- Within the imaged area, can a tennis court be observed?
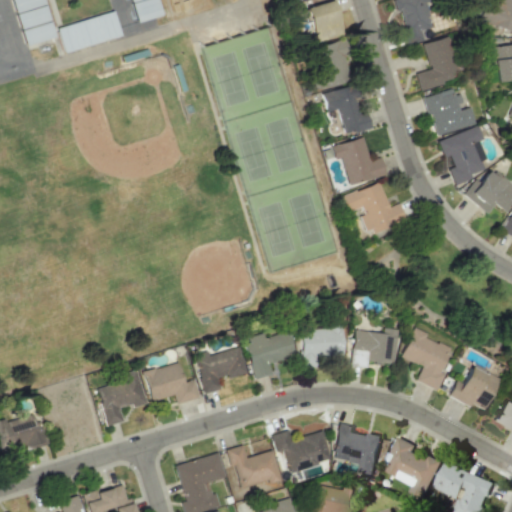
Yes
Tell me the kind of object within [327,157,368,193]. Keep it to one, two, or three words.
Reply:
swimming pool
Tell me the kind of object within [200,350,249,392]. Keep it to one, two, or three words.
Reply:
house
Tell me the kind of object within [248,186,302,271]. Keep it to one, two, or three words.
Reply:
tennis court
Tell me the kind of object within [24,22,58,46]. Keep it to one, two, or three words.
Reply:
building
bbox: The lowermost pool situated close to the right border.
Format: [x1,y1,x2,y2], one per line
[462,347,502,376]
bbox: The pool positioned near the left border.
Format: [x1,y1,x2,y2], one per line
[20,398,35,413]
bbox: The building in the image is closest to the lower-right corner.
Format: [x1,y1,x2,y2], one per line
[434,466,494,512]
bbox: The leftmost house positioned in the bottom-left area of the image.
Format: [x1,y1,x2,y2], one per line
[0,414,48,452]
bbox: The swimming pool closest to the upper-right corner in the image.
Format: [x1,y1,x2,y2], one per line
[478,134,504,167]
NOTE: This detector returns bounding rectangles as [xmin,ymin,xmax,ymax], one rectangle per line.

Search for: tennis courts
[226,112,280,196]
[281,177,336,260]
[203,38,258,121]
[258,102,314,186]
[248,186,302,271]
[236,28,292,112]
